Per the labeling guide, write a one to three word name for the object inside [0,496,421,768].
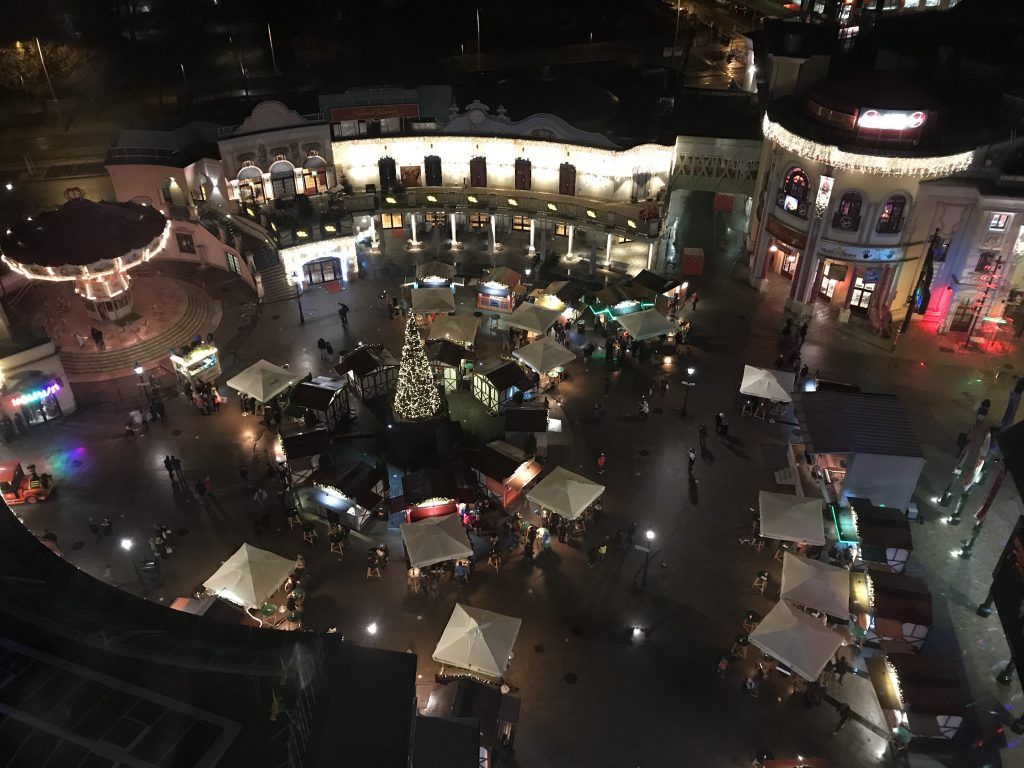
building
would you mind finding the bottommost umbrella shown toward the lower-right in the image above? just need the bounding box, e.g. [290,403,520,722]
[748,600,845,683]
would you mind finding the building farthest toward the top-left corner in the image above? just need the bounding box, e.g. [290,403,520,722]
[100,114,236,217]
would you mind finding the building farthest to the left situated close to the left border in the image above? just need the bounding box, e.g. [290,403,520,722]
[0,314,75,442]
